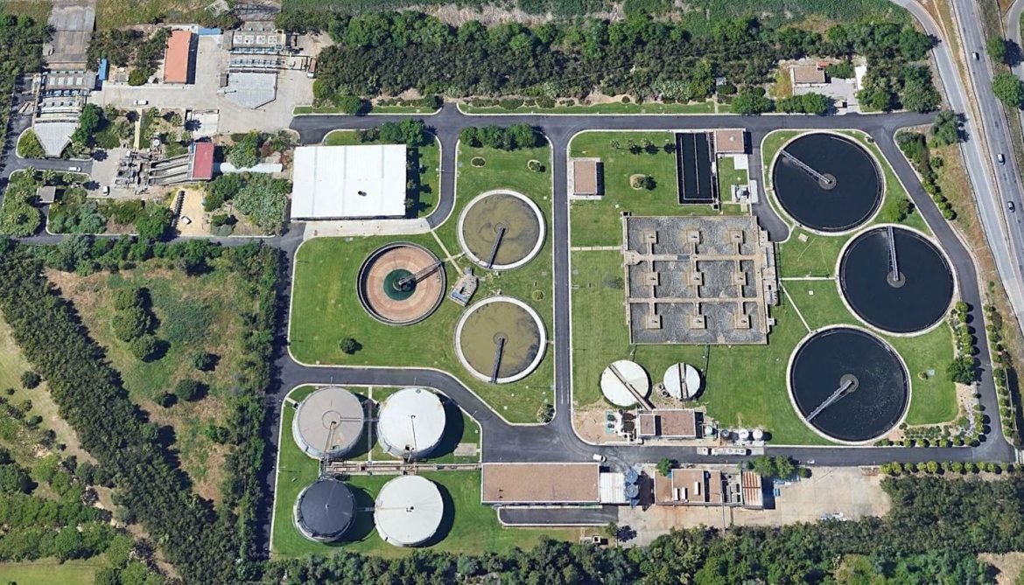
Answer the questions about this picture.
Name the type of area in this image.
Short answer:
industrial area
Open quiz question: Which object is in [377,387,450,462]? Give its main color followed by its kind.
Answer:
white storage tank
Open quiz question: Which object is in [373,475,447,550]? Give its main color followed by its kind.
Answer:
white storage tank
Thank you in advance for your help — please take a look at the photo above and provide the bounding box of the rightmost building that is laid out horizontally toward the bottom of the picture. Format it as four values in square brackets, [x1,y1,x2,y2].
[654,470,743,507]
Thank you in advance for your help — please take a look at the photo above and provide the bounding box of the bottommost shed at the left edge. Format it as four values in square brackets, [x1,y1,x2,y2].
[37,186,59,206]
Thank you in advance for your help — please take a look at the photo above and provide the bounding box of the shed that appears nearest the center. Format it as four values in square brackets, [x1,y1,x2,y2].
[574,161,597,198]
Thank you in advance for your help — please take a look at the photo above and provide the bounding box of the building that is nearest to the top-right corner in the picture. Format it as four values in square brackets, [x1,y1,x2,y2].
[793,62,831,87]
